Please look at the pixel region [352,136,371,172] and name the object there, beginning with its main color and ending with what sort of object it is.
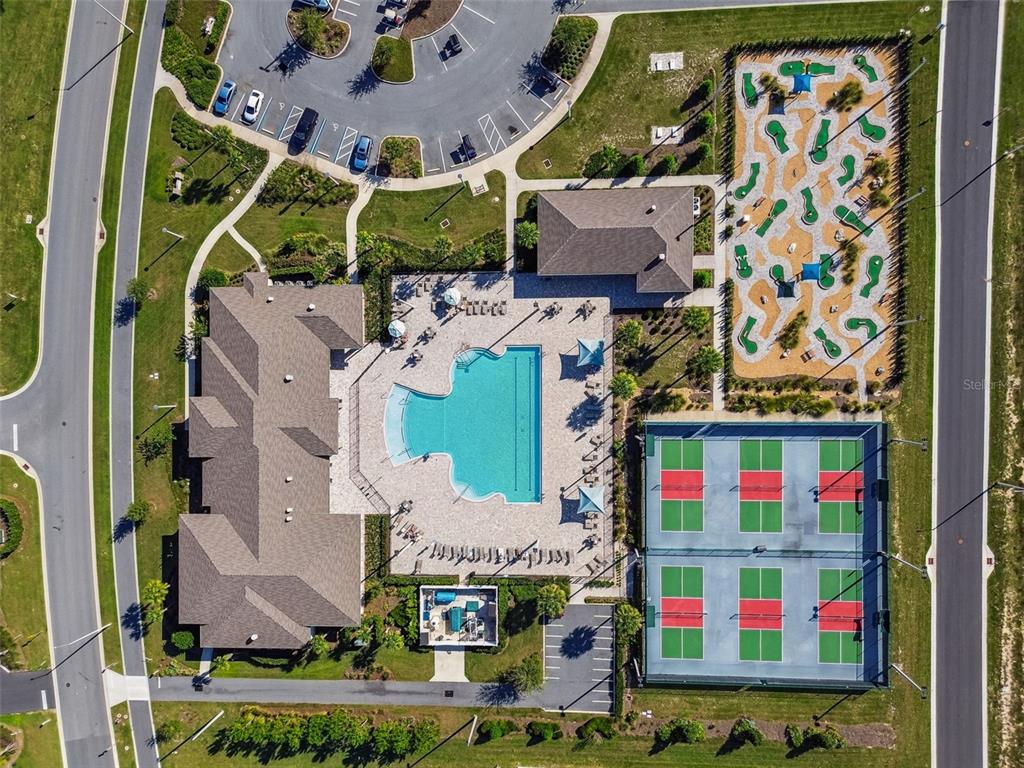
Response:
blue car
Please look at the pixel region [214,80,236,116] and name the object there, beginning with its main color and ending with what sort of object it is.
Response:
blue car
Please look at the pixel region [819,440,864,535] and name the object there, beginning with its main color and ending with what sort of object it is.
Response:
green sports court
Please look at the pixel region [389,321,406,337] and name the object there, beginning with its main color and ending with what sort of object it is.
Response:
white umbrella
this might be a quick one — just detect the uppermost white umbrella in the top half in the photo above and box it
[444,289,461,306]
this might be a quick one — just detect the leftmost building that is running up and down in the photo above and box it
[178,272,363,649]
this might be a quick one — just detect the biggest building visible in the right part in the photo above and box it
[537,186,694,293]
